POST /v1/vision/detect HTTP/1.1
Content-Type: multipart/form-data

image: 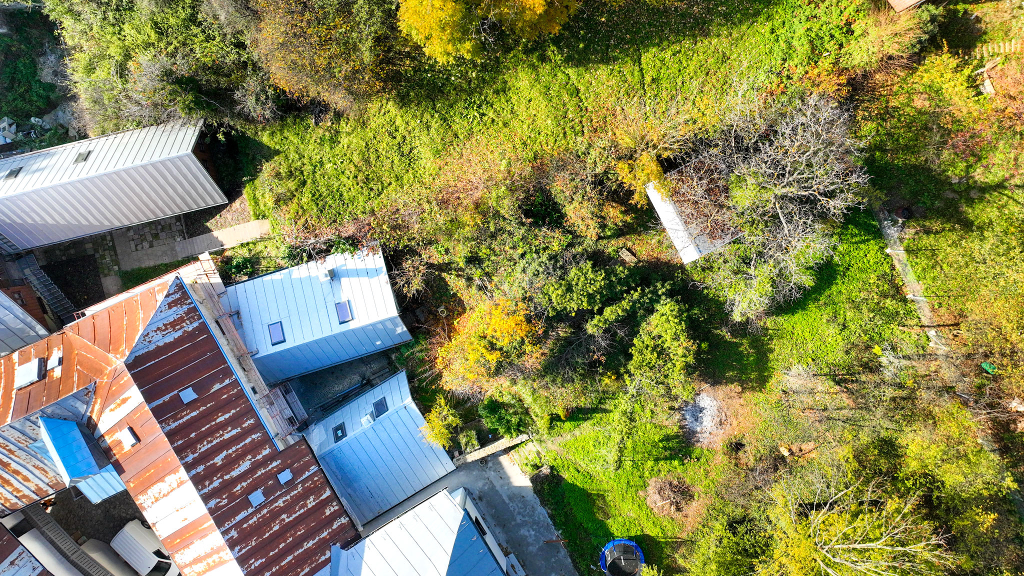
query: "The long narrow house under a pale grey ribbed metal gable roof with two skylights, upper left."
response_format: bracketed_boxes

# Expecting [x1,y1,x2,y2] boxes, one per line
[0,118,237,252]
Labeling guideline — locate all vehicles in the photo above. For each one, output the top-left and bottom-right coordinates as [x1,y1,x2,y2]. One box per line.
[87,533,139,576]
[118,523,180,576]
